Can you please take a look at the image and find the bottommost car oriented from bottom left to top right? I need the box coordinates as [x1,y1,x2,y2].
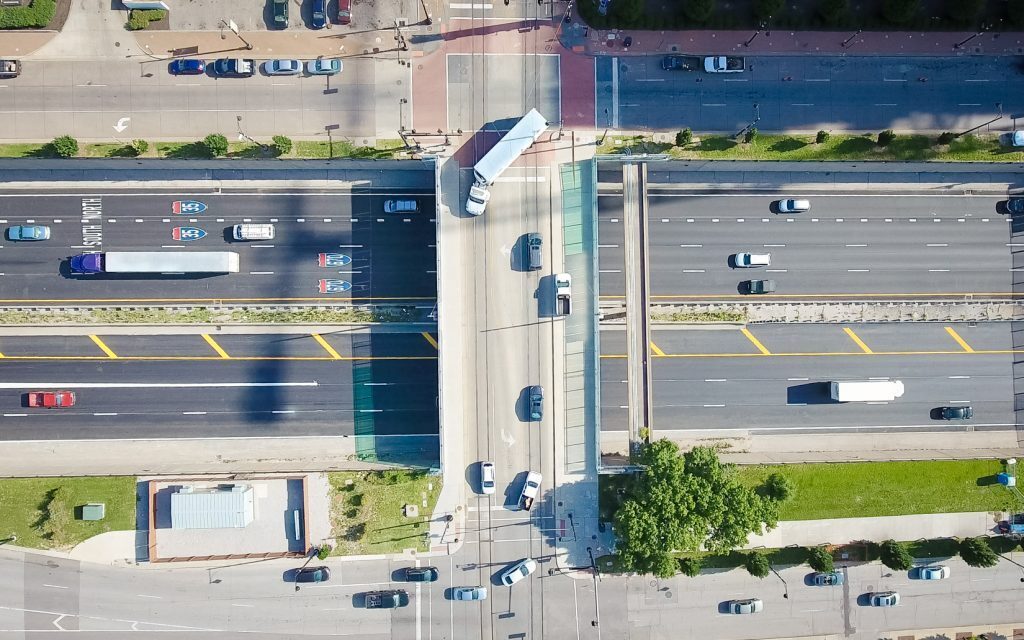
[498,556,538,587]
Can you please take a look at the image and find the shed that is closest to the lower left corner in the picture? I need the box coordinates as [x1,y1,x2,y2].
[172,487,252,529]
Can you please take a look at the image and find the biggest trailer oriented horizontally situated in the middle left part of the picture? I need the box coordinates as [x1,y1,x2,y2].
[104,251,242,273]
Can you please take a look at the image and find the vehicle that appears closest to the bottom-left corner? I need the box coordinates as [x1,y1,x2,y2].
[27,390,77,408]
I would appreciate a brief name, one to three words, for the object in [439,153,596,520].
bridge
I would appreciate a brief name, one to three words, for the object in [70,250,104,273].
truck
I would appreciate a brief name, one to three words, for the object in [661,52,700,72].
vehicle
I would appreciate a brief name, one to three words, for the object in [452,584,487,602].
car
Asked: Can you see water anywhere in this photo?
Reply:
No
